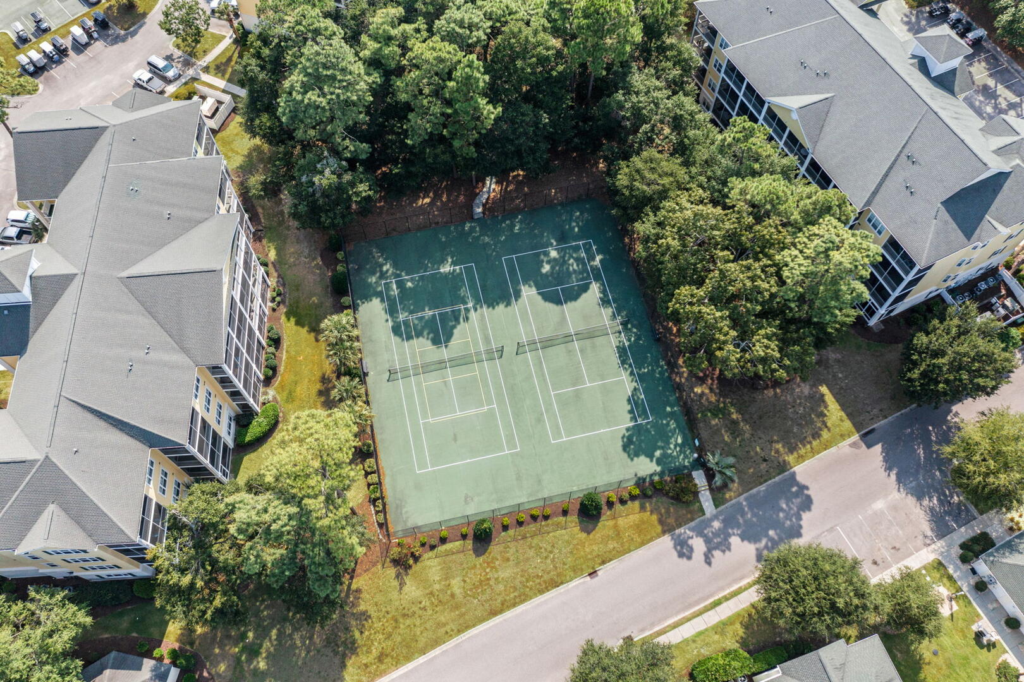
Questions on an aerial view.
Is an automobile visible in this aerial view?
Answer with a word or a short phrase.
Yes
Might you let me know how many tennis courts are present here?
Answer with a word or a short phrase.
2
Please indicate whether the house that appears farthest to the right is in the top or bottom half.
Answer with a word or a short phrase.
bottom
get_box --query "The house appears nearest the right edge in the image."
[965,532,1024,645]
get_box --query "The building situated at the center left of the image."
[0,88,266,577]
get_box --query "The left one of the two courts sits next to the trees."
[346,220,550,537]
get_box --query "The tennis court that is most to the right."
[478,196,695,501]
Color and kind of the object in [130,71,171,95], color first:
white truck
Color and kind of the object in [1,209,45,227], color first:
white car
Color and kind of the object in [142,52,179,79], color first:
white car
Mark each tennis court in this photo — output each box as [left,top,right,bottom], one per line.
[346,220,550,537]
[478,196,695,501]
